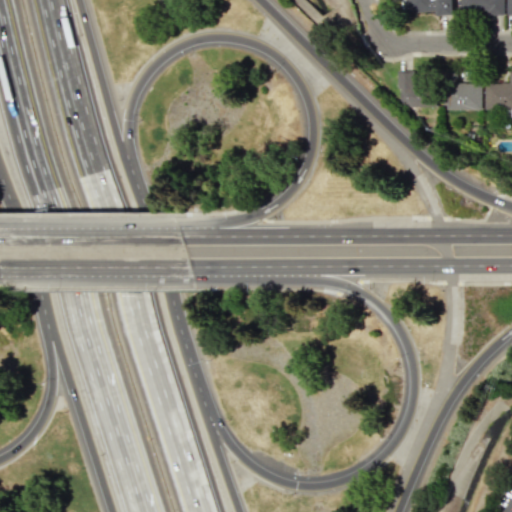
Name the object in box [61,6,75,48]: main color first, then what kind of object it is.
white vehicle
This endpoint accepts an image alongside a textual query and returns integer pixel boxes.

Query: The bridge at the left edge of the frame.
[0,212,191,291]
